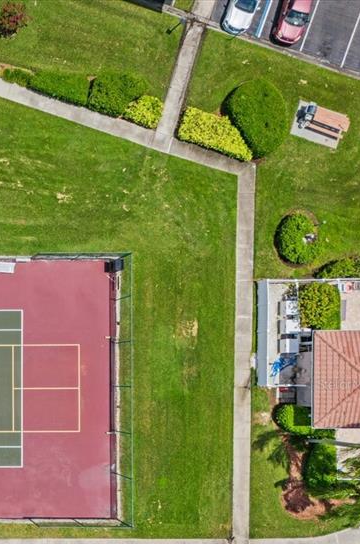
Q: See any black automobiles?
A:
No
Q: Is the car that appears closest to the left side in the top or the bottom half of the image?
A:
top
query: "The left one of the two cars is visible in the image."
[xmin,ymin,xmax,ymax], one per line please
[220,0,259,35]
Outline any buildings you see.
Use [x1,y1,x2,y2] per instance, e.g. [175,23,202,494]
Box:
[298,329,360,431]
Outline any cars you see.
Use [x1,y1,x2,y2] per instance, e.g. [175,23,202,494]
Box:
[220,0,259,35]
[273,0,317,48]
